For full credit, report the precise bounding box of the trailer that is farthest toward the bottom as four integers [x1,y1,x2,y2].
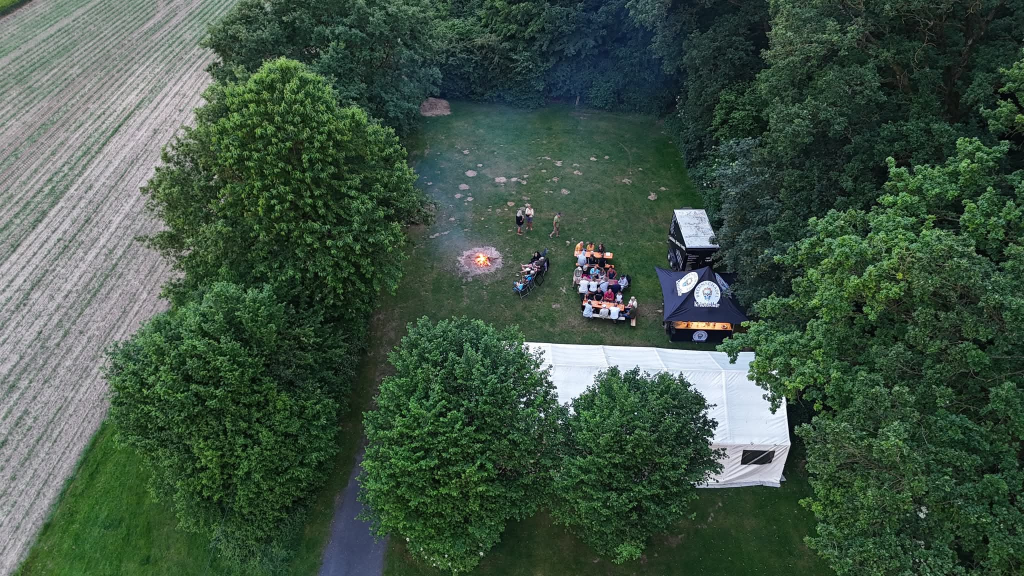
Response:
[669,211,720,273]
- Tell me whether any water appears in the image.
No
